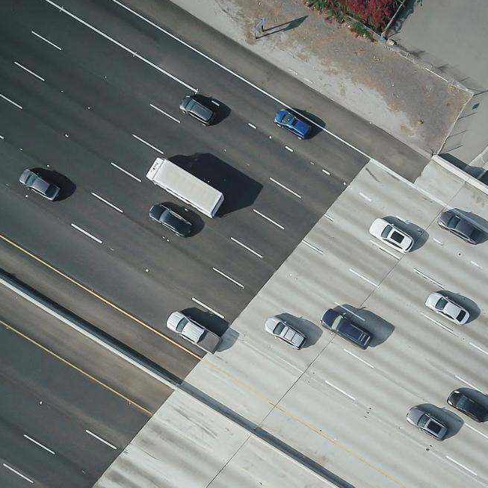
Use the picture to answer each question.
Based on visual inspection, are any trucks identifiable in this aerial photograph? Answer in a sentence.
Yes, the image includes a truck.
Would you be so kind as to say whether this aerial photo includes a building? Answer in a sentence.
No, I find no building anywhere in the image.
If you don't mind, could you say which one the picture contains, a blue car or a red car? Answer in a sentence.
It is a blue car that can be seen here.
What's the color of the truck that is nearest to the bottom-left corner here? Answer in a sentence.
The truck that is nearest to the bottom-left corner looks white in the image.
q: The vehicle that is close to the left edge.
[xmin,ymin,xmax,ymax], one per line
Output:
[19,169,62,202]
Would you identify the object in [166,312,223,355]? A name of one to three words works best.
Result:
truck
